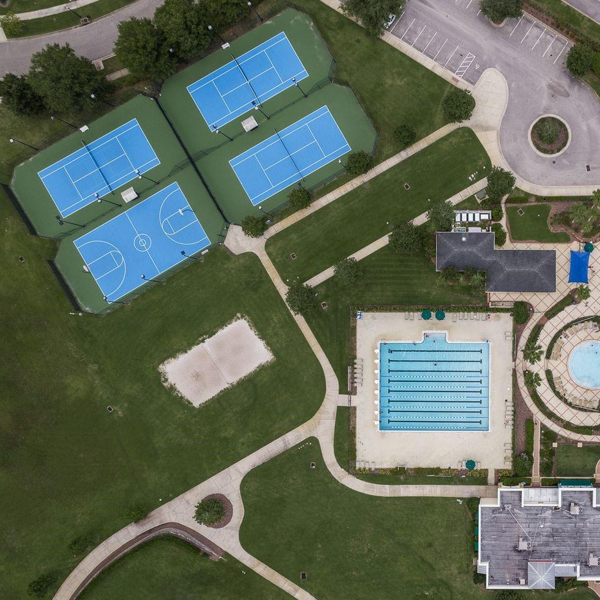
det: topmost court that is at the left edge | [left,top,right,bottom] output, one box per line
[10,95,187,239]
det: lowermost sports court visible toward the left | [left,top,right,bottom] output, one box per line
[162,316,272,405]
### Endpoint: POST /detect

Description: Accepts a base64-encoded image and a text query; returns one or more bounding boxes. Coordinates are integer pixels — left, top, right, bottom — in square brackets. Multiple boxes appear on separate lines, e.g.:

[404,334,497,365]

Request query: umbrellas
[583,243,593,252]
[435,311,445,320]
[465,460,476,470]
[422,310,432,320]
